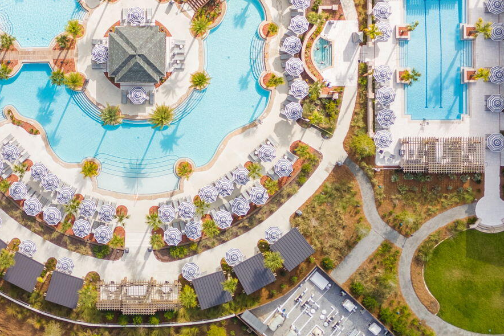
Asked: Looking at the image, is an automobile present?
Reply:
No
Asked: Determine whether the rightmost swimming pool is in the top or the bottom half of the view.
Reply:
top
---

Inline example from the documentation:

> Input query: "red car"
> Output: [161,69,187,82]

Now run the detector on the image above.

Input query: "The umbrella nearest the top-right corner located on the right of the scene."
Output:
[486,0,504,15]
